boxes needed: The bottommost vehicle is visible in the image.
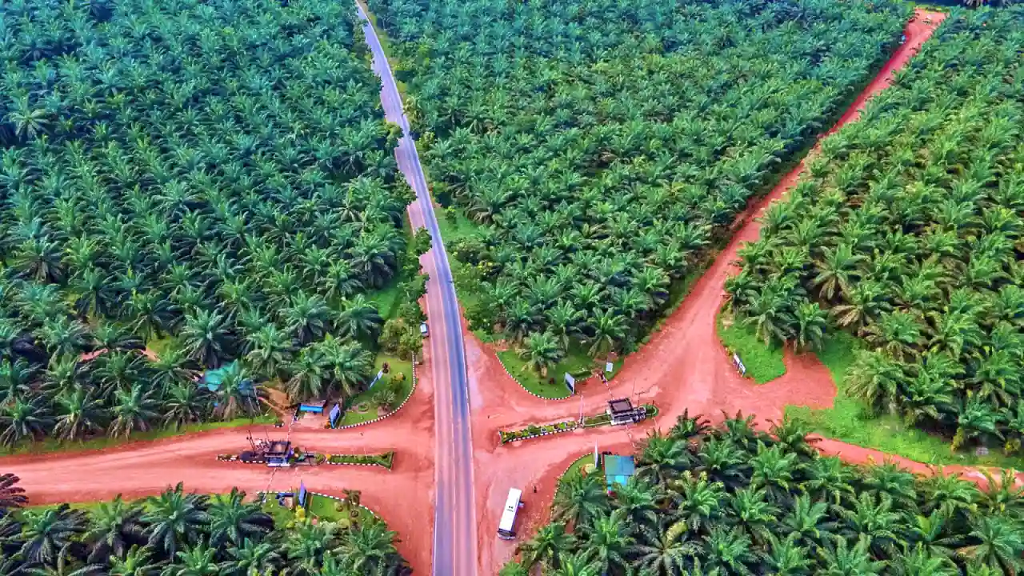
[496,489,522,542]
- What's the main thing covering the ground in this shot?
trees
